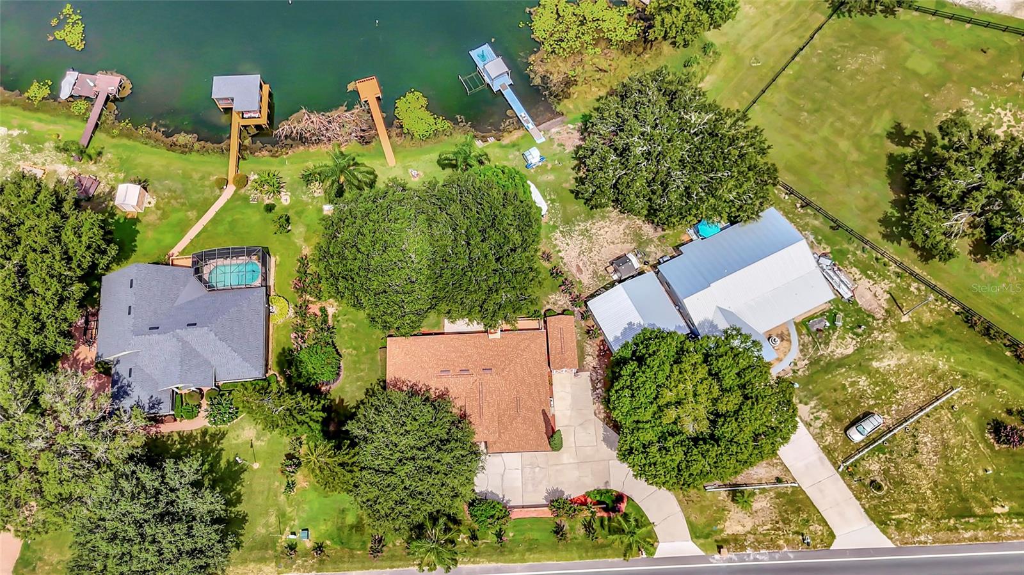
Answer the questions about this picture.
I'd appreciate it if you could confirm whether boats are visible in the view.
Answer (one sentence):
Yes, the image includes a boat.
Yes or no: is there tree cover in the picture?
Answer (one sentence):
Yes, there is tree cover in the image.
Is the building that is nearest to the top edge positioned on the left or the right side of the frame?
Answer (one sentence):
The building that is nearest to the top edge sits on the left side.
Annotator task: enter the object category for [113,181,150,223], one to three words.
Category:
shed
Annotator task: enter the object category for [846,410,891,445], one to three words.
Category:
car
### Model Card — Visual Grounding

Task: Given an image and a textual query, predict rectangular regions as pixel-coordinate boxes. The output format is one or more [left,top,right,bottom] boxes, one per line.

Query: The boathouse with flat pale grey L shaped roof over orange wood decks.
[212,74,272,187]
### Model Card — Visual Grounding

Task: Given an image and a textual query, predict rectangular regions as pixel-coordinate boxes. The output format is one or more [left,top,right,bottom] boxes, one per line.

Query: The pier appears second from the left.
[355,72,396,167]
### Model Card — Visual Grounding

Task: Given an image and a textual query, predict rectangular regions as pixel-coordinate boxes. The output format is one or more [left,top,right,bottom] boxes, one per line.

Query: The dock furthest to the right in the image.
[468,42,546,144]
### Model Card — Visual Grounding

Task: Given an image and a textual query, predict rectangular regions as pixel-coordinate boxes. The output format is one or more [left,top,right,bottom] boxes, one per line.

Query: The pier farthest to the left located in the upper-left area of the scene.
[72,73,126,145]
